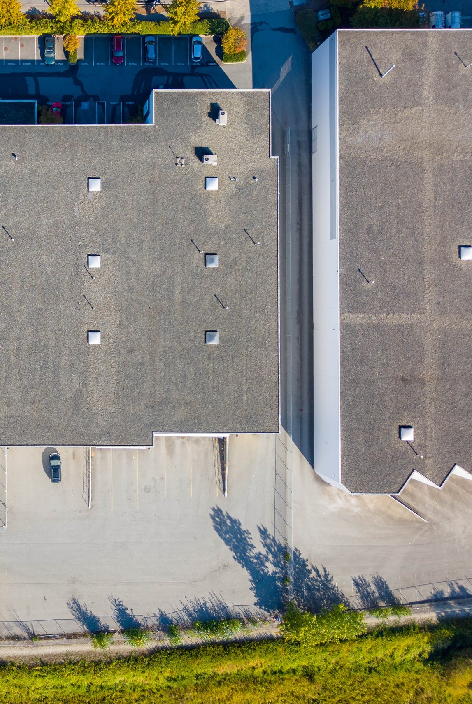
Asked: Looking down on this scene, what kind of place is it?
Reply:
industrial area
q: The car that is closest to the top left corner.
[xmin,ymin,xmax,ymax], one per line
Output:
[43,36,57,67]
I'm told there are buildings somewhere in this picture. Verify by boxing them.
[0,88,281,451]
[312,29,472,495]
